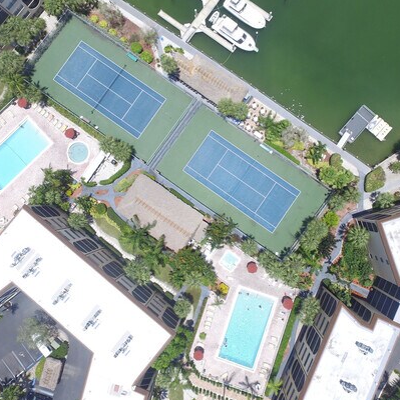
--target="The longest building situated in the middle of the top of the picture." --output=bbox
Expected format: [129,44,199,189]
[175,51,250,105]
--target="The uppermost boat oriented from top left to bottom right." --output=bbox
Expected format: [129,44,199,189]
[220,0,267,28]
